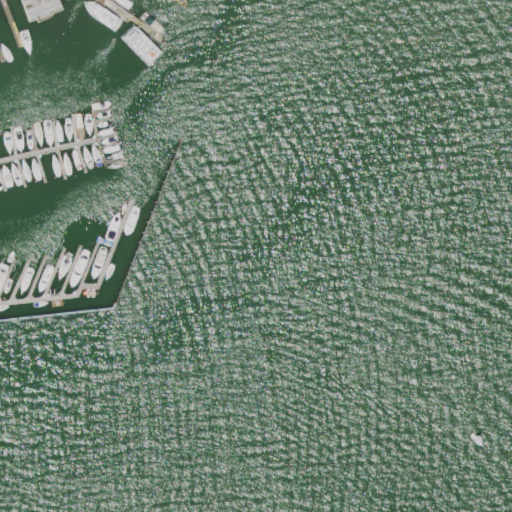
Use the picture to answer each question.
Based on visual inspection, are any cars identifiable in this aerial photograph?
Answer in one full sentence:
No, there is no car in the image.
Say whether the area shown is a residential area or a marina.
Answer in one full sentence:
The picture captures a marina.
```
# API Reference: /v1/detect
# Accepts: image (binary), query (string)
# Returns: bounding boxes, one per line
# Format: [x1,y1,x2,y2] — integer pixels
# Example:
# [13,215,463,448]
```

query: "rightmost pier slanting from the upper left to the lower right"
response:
[94,0,160,40]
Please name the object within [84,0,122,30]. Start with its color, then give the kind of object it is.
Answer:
white boat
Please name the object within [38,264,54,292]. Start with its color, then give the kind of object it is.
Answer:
white boat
